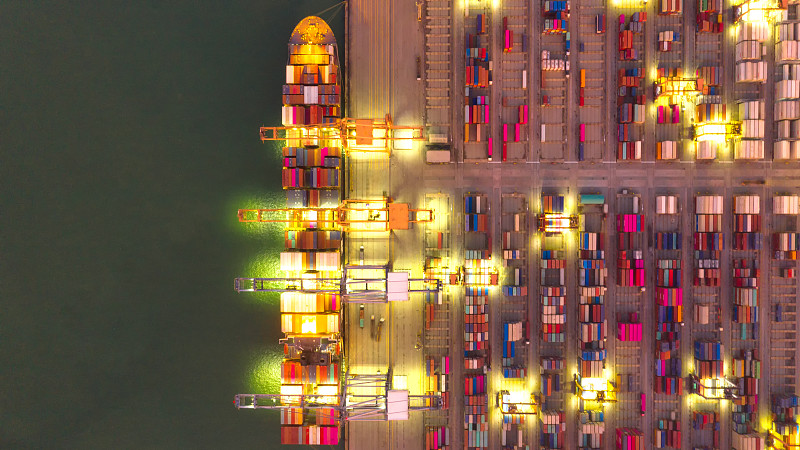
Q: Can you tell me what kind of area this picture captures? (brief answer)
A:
port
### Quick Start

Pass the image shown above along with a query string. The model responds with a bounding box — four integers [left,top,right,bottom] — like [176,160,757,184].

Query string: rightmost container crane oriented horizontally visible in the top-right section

[730,0,784,21]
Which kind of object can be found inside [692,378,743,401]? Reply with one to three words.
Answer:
container crane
